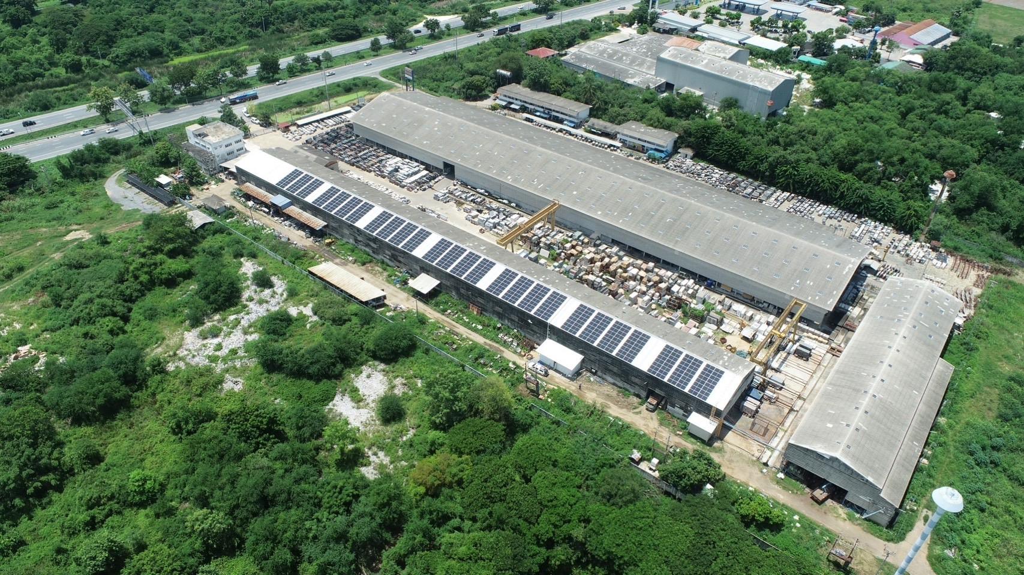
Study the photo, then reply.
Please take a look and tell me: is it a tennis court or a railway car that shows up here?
railway car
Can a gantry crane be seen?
Yes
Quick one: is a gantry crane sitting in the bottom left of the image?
No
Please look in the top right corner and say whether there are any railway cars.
No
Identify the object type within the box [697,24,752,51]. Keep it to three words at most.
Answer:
building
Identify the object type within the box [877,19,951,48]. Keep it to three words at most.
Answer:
building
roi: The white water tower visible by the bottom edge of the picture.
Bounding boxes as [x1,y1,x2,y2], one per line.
[893,490,963,575]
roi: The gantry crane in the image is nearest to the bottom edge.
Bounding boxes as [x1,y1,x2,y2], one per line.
[744,296,812,390]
